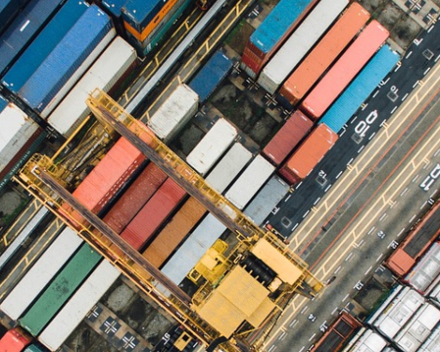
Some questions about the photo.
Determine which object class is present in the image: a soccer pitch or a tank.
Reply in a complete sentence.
There is a tank in the scene.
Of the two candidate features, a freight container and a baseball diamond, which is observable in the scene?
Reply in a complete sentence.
It is a freight container that can be seen here.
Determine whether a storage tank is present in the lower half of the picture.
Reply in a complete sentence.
Yes, a storage tank shows up in the lower half of the picture.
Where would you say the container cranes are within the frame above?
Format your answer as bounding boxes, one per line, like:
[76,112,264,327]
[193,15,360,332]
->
[14,79,332,352]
